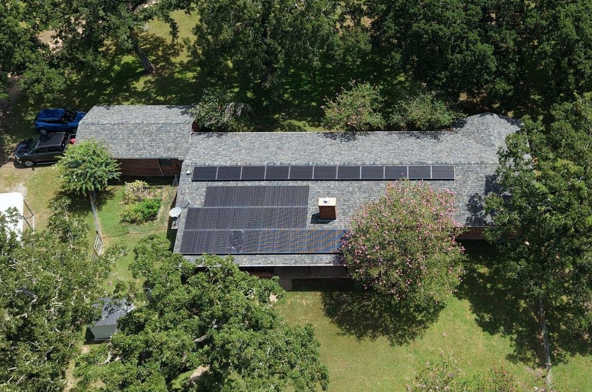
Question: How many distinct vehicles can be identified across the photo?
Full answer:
The number of vehicles here is 2.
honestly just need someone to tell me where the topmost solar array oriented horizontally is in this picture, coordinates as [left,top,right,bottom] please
[191,166,455,179]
